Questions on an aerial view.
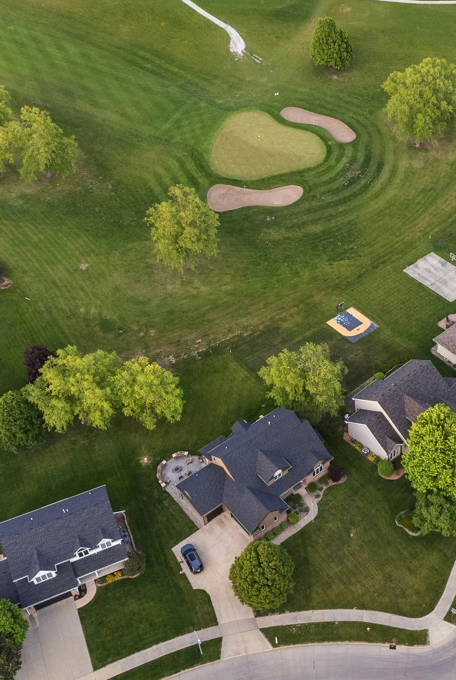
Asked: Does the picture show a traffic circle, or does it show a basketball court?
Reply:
basketball court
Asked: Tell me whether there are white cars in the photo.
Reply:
No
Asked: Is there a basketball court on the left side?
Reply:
No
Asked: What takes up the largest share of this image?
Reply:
grass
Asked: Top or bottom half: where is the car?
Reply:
bottom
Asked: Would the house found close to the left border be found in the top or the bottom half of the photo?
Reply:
bottom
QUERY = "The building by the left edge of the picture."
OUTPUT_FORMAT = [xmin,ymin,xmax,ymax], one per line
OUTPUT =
[0,485,130,624]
